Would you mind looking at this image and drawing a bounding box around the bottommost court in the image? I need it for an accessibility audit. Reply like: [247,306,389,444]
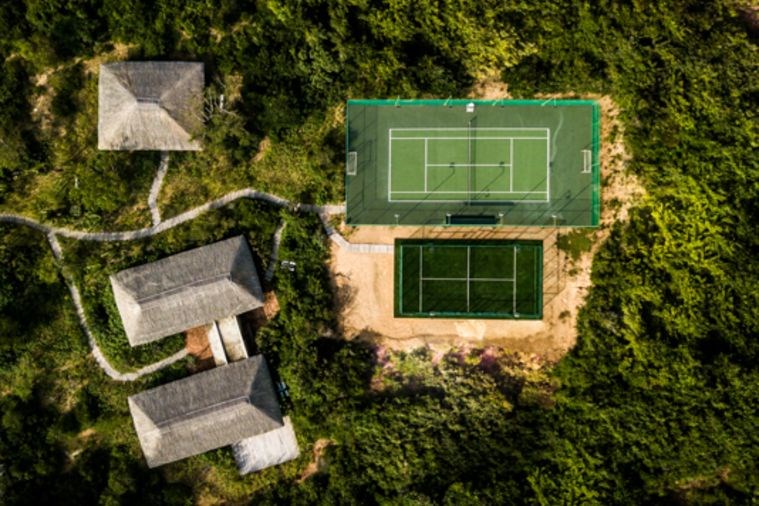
[394,239,543,319]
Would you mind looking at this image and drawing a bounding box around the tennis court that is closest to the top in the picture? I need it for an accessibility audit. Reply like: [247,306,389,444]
[345,104,593,228]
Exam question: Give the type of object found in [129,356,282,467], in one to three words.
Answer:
house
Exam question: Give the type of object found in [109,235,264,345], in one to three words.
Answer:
house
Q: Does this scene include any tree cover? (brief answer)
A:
Yes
